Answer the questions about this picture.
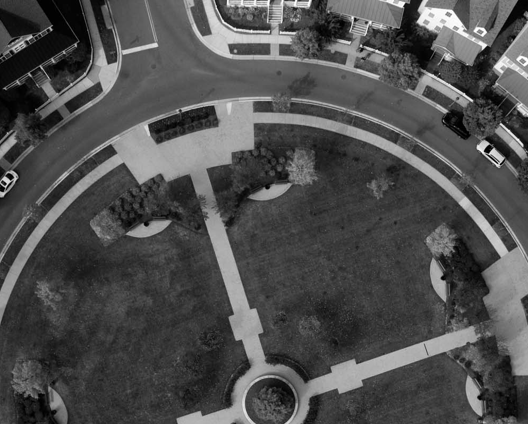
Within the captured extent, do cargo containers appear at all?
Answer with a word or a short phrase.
No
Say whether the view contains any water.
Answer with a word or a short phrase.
No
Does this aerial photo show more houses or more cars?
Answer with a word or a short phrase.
houses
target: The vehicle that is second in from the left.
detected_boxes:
[439,111,475,141]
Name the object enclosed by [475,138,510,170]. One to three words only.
car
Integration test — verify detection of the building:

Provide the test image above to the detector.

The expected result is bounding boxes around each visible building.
[416,0,522,70]
[326,0,412,40]
[491,21,528,117]
[0,0,81,92]
[226,0,310,23]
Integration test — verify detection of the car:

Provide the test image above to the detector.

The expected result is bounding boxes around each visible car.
[439,111,475,141]
[475,138,510,170]
[0,165,22,202]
